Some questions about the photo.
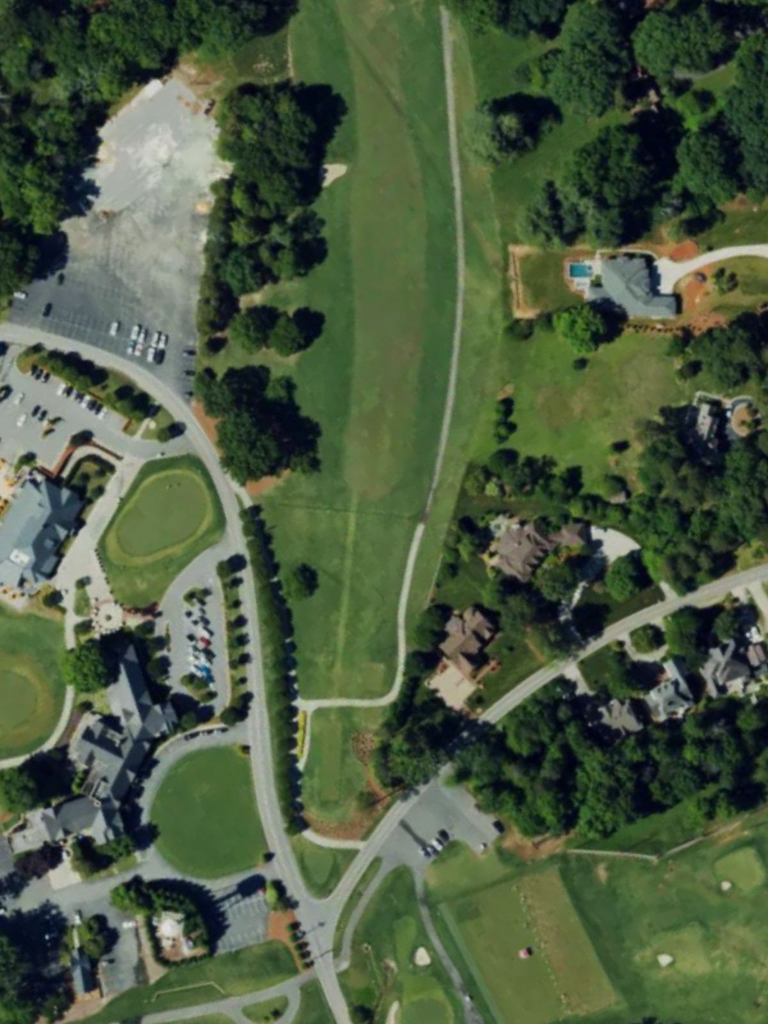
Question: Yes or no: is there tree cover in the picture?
Yes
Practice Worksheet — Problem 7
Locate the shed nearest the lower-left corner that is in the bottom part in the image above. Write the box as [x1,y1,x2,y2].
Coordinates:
[66,951,91,1000]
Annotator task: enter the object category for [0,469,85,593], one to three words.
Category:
building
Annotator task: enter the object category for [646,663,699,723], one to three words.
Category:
house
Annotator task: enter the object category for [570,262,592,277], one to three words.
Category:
swimming pool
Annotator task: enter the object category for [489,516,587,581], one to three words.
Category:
house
